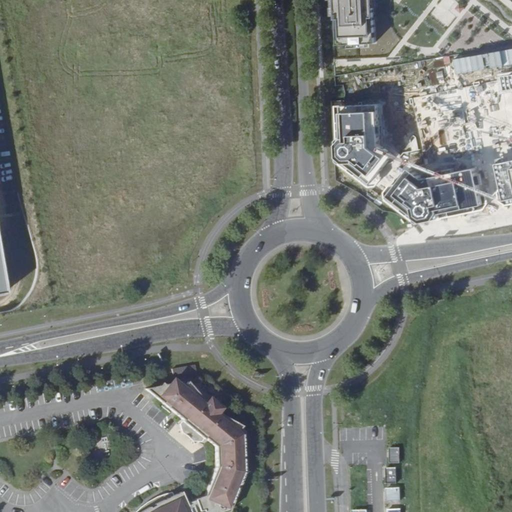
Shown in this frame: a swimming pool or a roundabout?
roundabout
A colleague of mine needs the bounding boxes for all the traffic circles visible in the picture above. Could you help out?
[228,218,374,365]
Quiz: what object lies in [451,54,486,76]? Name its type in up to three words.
shed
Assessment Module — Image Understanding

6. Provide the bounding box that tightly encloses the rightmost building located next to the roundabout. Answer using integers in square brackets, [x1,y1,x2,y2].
[382,169,486,223]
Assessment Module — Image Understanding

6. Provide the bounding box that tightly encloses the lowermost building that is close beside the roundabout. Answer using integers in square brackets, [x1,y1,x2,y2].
[146,378,248,508]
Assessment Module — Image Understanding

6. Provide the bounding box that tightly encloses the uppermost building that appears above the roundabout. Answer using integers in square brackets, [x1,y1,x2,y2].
[326,0,376,47]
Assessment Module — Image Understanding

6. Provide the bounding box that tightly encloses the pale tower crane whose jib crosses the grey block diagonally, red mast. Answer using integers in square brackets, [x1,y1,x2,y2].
[370,145,501,205]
